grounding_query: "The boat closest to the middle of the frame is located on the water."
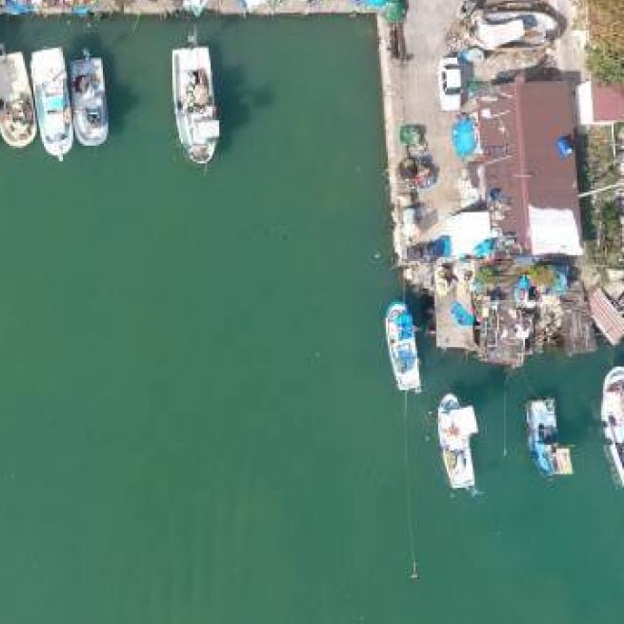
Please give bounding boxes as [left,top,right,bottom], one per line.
[386,302,420,397]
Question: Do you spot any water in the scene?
Yes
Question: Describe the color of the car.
white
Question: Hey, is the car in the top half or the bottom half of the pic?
top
